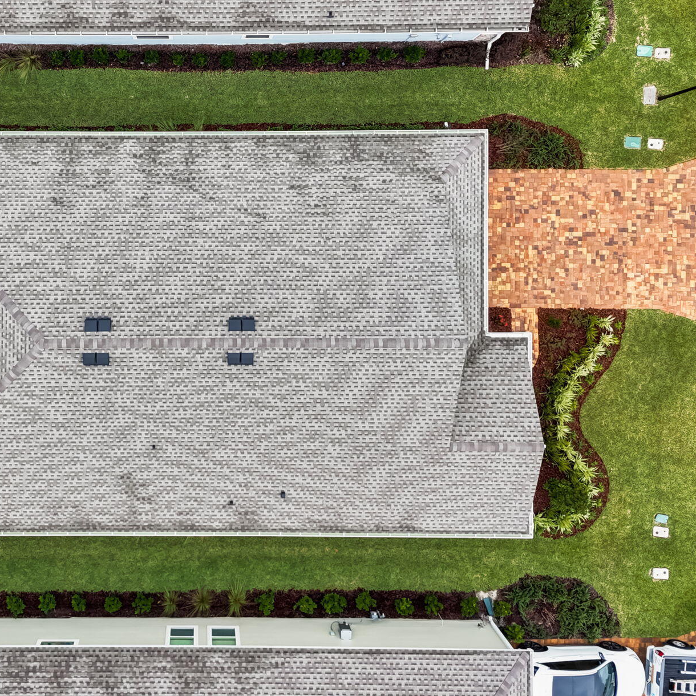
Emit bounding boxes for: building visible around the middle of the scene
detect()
[0,122,548,537]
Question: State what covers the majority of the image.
buildings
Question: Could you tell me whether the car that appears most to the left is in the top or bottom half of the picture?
bottom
